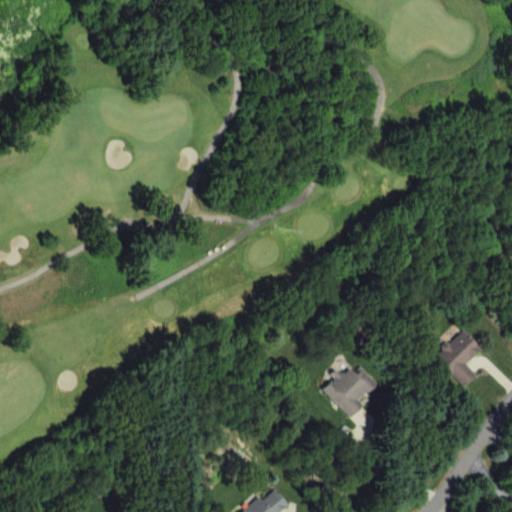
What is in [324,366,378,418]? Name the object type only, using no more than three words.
house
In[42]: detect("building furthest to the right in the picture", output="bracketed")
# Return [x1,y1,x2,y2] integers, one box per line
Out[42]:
[439,325,484,387]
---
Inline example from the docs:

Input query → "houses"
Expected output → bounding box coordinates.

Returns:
[243,489,293,512]
[324,366,378,418]
[439,325,484,387]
